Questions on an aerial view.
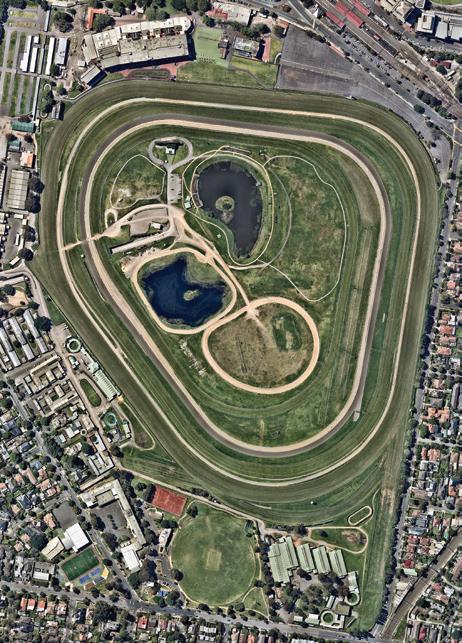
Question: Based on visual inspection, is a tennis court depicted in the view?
Yes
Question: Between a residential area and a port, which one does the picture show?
residential area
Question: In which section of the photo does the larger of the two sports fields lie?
bottom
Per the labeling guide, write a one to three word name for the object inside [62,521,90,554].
building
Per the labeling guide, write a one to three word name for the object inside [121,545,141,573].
building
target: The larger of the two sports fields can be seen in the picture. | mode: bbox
[169,509,255,605]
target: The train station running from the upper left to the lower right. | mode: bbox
[317,0,417,72]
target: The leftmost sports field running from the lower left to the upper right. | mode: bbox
[60,545,100,583]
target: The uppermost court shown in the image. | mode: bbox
[148,485,188,517]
